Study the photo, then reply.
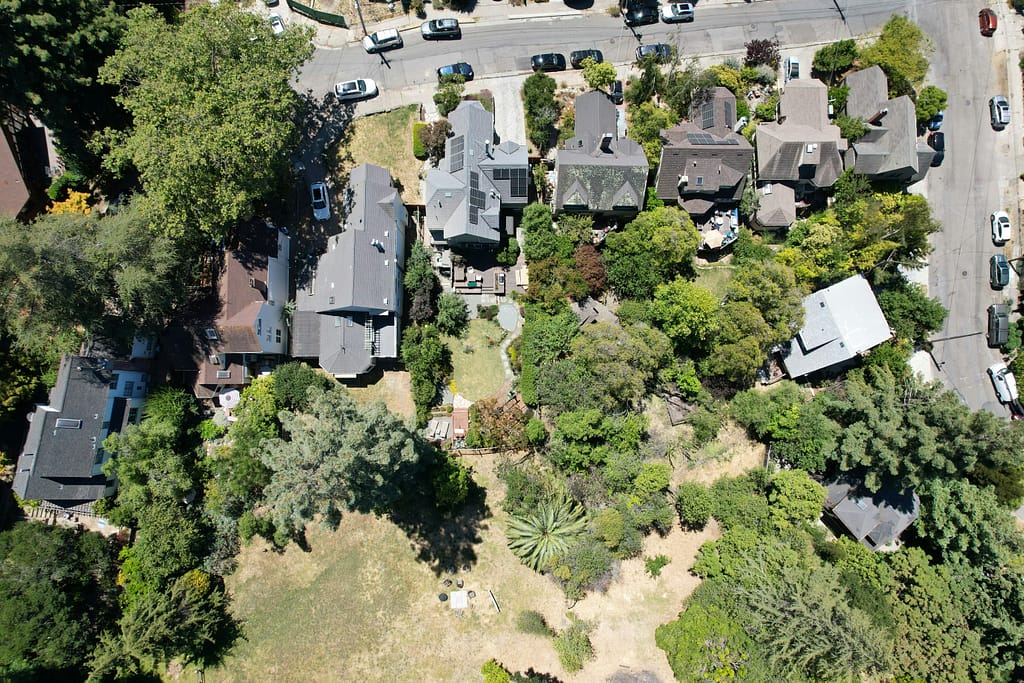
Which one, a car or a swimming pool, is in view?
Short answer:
car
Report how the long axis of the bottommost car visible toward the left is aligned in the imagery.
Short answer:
vertically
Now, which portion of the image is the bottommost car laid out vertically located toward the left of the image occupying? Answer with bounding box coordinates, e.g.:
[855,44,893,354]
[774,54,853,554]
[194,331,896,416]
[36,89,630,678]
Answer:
[311,182,331,221]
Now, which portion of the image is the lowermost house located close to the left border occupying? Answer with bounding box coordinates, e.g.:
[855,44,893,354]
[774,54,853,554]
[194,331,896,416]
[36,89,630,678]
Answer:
[12,353,147,499]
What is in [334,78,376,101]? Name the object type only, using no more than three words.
car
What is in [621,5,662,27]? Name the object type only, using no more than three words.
car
